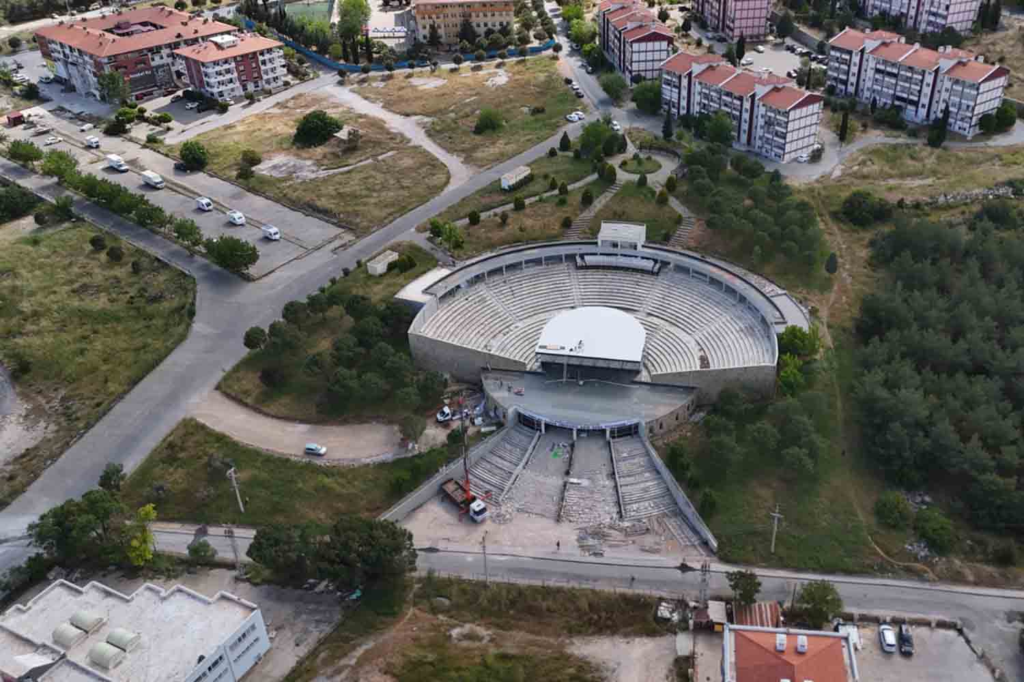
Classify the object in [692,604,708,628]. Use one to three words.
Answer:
shed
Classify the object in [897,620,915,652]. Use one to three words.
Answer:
car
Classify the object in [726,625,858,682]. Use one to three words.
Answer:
building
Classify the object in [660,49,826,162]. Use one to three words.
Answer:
building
